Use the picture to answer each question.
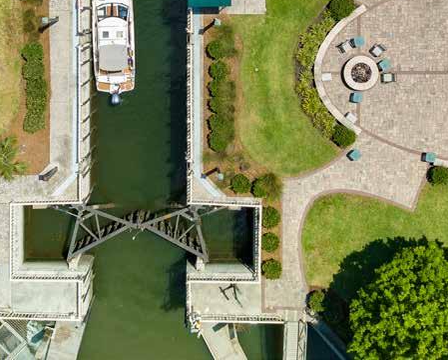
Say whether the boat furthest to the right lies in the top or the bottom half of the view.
top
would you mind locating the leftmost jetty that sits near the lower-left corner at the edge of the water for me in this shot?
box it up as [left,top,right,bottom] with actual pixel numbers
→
[45,320,84,360]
